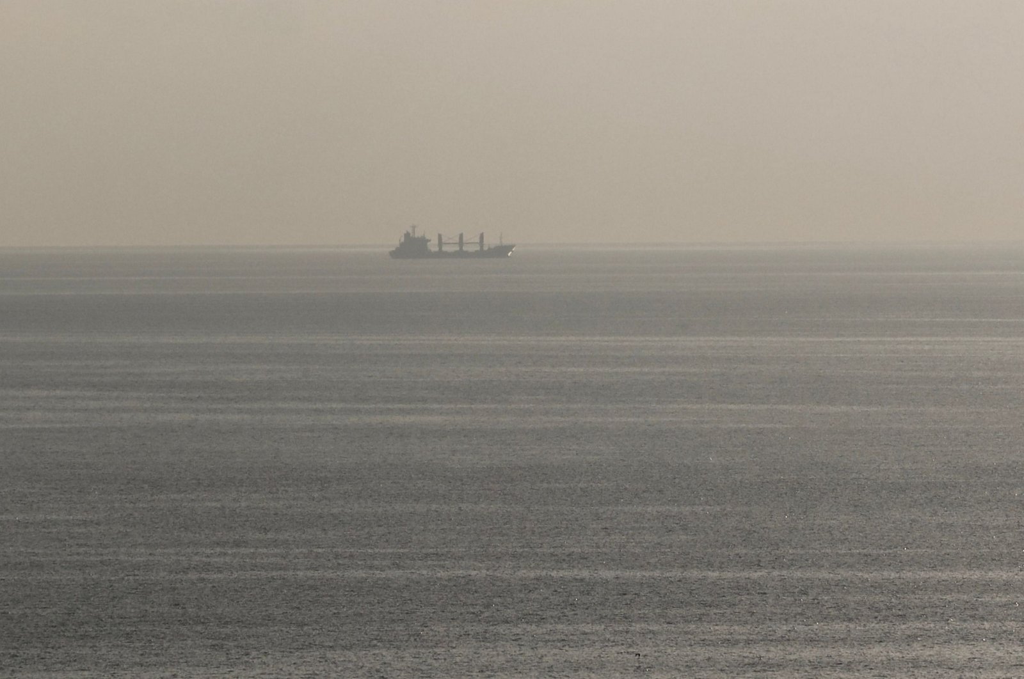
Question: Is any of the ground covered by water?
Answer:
Yes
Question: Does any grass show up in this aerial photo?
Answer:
No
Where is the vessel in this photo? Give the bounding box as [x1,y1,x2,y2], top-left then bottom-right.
[388,223,515,258]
